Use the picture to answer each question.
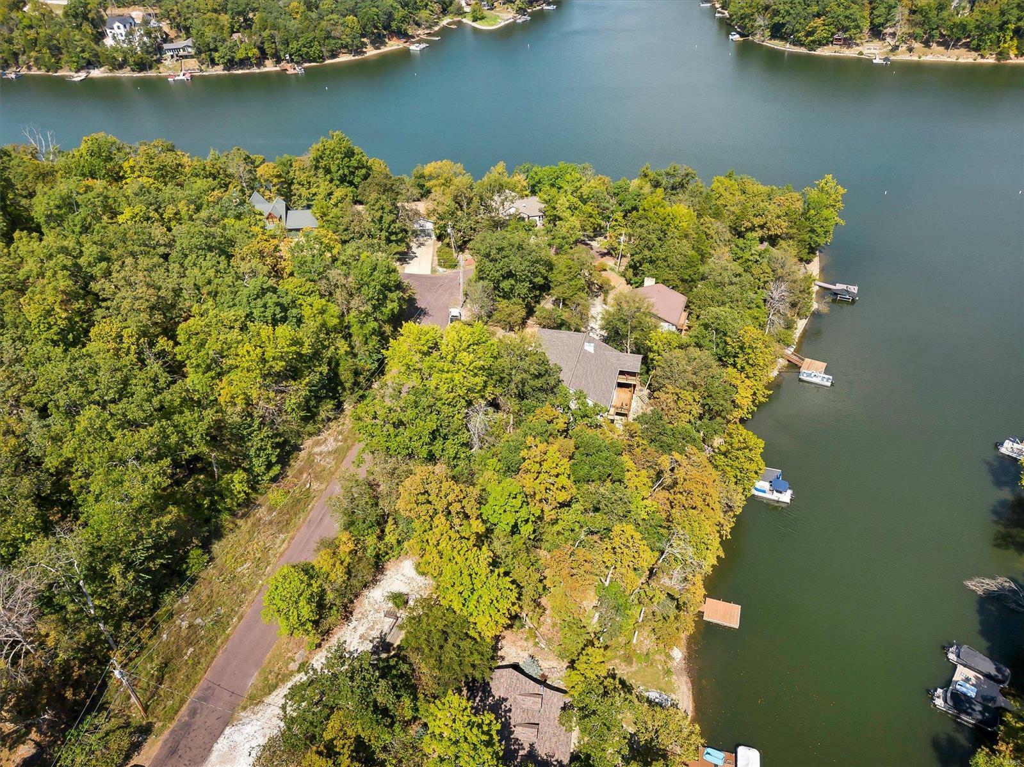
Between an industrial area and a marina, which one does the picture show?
marina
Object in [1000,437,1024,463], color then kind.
white boat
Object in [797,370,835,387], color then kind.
white boat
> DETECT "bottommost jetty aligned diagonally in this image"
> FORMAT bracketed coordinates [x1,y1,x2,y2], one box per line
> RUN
[951,665,1014,708]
